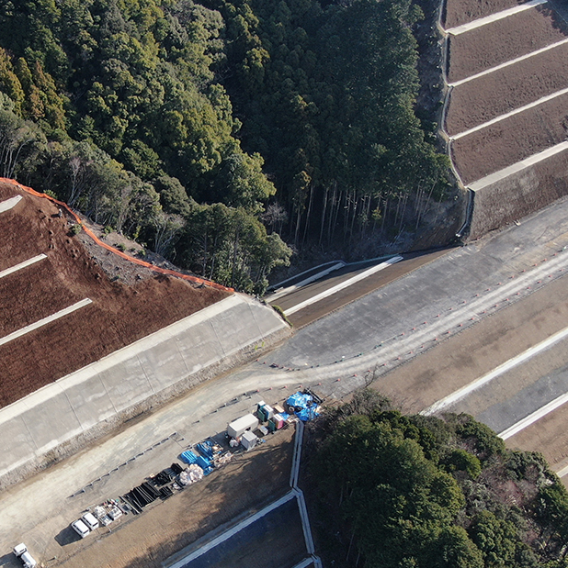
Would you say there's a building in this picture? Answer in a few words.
Yes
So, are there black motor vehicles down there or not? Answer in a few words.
No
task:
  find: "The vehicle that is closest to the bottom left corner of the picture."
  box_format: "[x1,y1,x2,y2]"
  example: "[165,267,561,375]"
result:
[10,540,37,568]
